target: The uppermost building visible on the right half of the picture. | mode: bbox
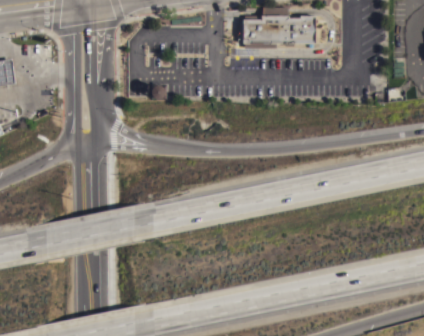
[243,8,318,48]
